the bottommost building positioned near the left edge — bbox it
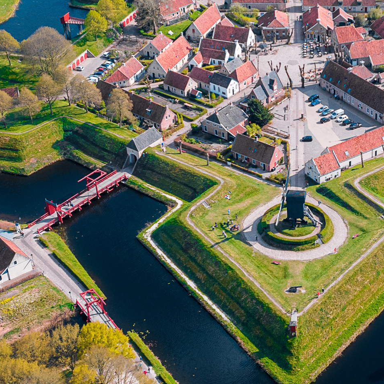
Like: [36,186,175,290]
[0,236,36,284]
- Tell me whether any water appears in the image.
Yes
